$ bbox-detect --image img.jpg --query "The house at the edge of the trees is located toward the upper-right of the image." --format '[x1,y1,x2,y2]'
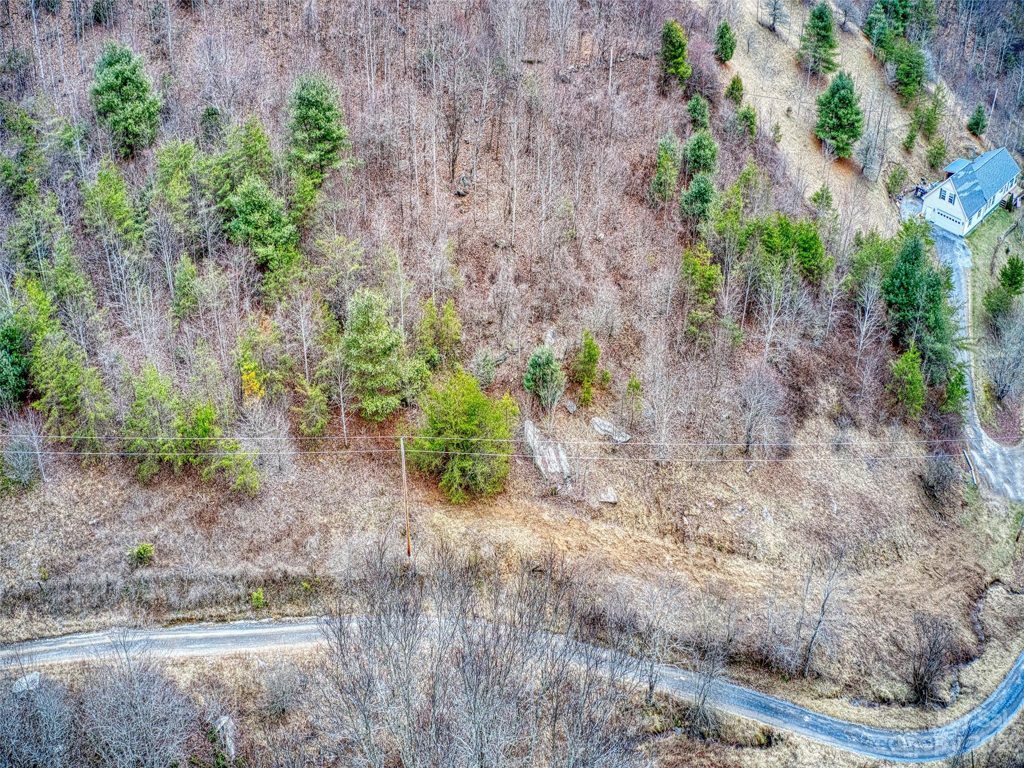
[914,142,1023,238]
